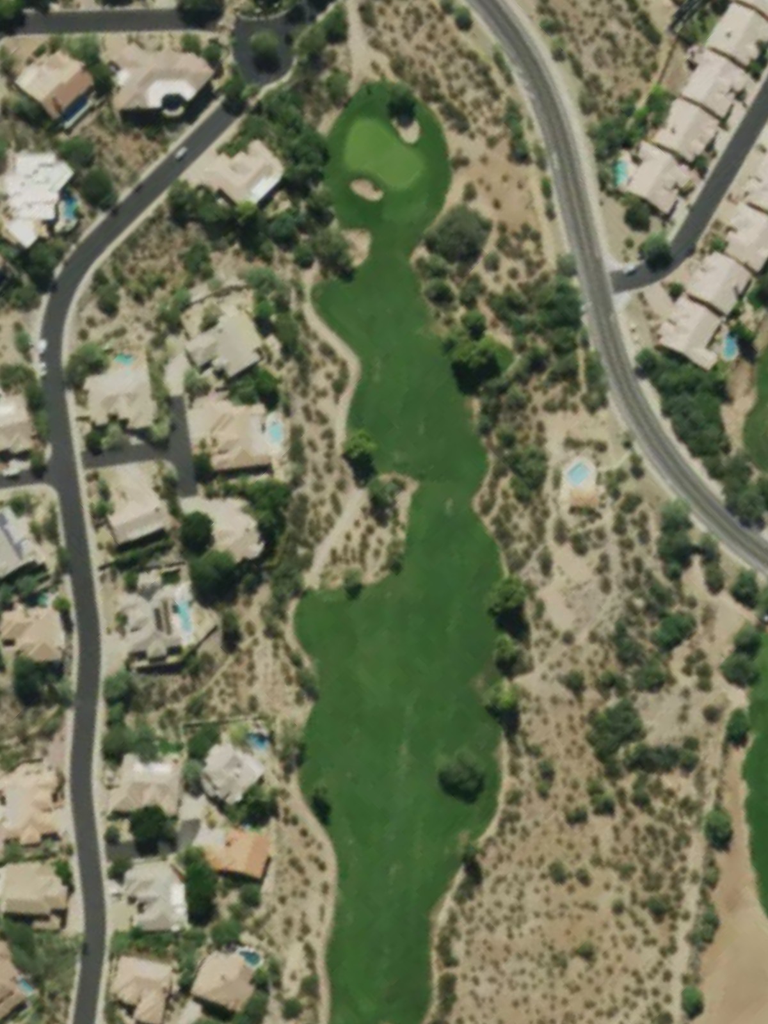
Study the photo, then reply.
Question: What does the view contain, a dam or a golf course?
golf course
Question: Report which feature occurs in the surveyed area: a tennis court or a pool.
pool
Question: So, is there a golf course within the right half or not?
Yes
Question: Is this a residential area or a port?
residential area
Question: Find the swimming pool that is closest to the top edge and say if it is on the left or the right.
left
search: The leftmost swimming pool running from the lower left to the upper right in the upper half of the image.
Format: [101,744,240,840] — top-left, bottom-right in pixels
[63,95,97,127]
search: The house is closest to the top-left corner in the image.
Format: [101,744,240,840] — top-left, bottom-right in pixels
[20,49,92,120]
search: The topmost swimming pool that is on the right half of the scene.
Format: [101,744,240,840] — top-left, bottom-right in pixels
[611,154,634,190]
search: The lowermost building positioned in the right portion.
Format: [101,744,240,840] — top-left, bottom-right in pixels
[572,491,599,508]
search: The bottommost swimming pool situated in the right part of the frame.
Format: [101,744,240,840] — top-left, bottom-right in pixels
[563,455,596,494]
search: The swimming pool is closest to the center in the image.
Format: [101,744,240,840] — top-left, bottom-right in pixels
[267,410,286,450]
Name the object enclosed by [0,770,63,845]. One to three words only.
house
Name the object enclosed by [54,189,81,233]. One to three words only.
swimming pool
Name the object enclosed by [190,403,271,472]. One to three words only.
house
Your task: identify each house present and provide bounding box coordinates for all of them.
[192,945,255,1013]
[623,143,692,212]
[0,503,47,570]
[126,862,187,931]
[204,139,283,203]
[20,49,92,120]
[107,755,186,821]
[2,861,67,912]
[720,203,768,273]
[0,393,39,453]
[656,296,723,367]
[0,770,63,845]
[185,313,262,372]
[198,742,266,804]
[106,463,172,542]
[113,956,173,1024]
[3,603,65,661]
[0,940,31,1018]
[5,152,75,243]
[84,370,160,430]
[203,495,265,560]
[122,588,182,658]
[688,250,756,319]
[649,94,719,164]
[751,164,768,209]
[190,403,271,472]
[680,47,750,116]
[204,827,268,879]
[706,0,768,68]
[108,47,219,109]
